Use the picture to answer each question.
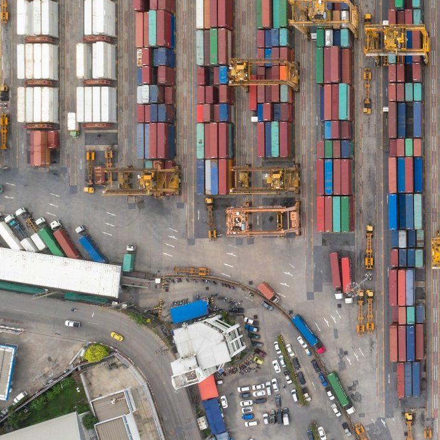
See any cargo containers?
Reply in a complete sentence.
Yes, there's a cargo container here.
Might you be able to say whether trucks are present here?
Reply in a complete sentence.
Yes, there's a truck here.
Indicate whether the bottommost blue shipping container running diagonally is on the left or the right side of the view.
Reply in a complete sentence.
The bottommost blue shipping container running diagonally appears in the right half of the scene.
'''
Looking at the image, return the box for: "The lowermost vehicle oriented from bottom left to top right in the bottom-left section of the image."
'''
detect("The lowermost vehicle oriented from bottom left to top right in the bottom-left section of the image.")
[11,387,32,406]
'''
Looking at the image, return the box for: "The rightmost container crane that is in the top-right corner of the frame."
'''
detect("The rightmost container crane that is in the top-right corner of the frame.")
[362,23,430,66]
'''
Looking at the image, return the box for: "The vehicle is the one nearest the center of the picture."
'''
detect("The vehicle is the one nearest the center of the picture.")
[206,196,219,247]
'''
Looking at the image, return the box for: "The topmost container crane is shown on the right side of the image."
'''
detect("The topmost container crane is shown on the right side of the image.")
[288,0,359,39]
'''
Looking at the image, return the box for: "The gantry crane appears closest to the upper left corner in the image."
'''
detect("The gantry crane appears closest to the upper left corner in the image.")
[94,163,180,199]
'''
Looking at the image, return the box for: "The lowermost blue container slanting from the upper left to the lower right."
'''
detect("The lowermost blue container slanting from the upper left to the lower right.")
[294,314,321,347]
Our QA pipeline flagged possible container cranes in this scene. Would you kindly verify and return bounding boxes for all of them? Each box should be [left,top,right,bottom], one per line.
[94,163,180,199]
[225,201,302,239]
[288,0,359,39]
[225,54,300,95]
[362,23,430,66]
[226,163,301,199]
